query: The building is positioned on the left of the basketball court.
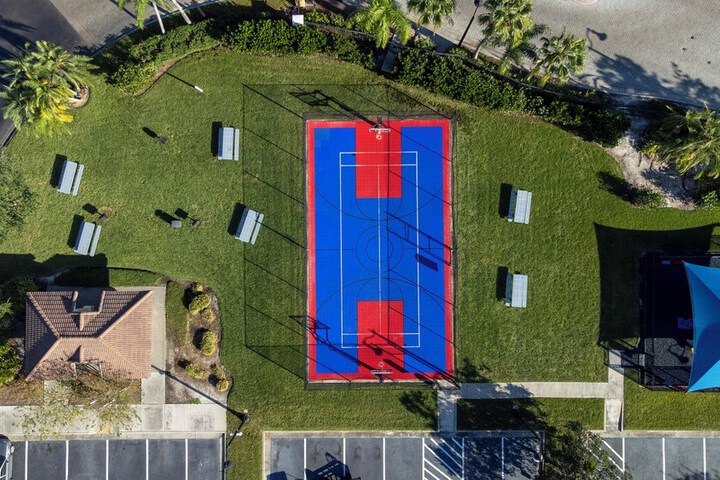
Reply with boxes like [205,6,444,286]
[20,290,153,383]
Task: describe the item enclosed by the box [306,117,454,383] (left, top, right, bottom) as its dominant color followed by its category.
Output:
blue basketball court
